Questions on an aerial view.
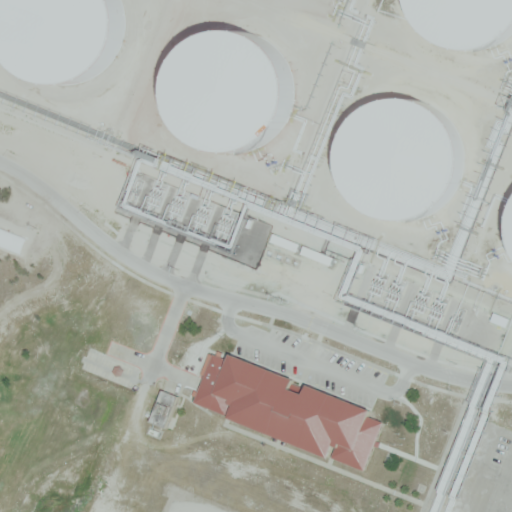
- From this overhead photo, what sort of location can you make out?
industrial area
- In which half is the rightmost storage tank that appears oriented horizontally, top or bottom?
top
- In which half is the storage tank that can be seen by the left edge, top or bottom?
top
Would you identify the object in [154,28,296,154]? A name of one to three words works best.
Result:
storage tank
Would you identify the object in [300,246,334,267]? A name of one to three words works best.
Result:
building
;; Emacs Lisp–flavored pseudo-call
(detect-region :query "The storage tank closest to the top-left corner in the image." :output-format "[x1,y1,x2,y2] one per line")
[0,0,128,86]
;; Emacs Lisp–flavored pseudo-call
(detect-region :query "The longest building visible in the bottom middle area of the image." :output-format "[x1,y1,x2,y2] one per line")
[192,352,383,470]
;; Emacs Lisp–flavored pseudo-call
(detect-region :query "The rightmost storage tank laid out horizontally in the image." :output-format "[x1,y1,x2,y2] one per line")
[400,0,512,52]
